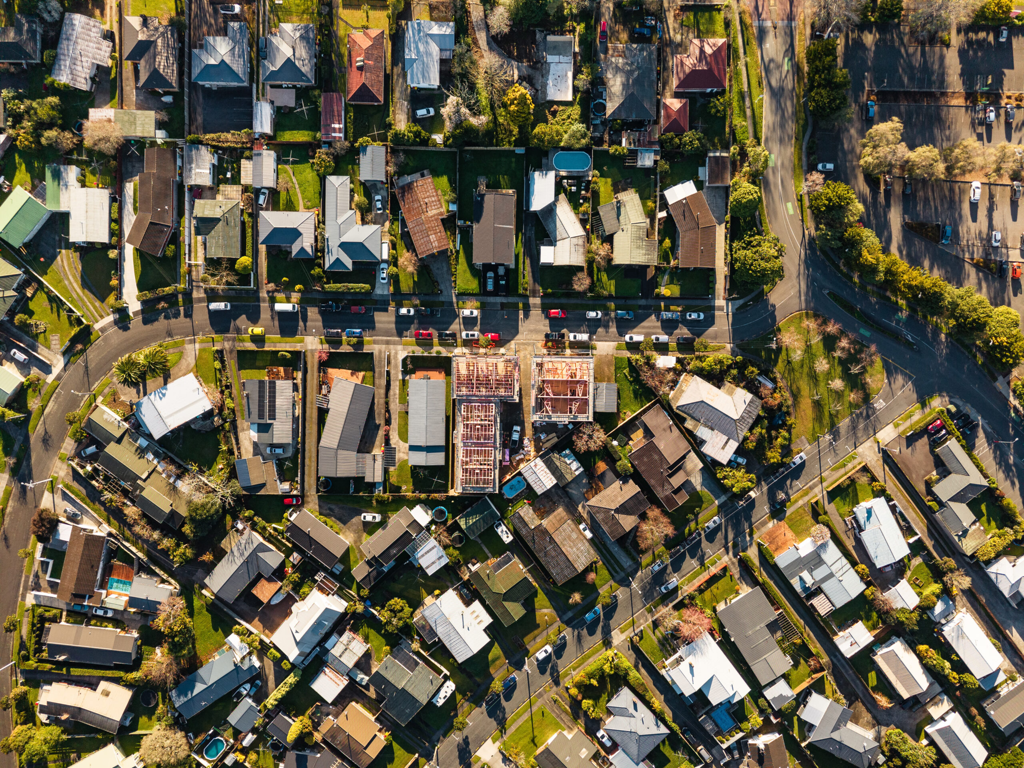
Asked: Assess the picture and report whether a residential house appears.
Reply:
Yes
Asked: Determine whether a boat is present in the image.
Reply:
Yes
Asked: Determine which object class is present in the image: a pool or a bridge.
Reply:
pool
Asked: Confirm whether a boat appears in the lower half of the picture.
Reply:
Yes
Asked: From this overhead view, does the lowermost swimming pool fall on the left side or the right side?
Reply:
left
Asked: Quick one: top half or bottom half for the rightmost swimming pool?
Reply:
bottom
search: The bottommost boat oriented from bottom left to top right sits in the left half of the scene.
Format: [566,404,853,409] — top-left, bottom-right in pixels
[232,682,250,704]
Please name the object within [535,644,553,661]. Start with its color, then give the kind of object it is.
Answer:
white car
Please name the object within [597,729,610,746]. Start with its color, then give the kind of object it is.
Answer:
white vehicle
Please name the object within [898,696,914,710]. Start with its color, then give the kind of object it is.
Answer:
black car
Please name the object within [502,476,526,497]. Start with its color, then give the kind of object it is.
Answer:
blue swimming pool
